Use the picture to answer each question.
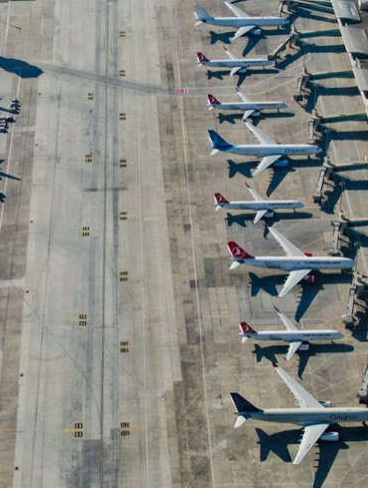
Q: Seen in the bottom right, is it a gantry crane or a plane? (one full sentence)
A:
Looking in the bottom right, you will find a plane.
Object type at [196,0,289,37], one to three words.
airplane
